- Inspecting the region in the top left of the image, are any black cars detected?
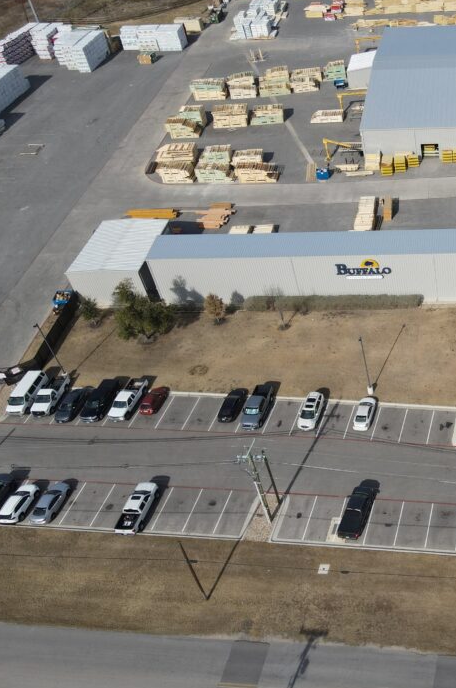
No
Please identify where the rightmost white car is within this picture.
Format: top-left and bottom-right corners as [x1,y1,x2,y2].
[353,394,379,431]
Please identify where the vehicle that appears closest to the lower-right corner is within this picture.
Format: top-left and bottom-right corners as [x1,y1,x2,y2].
[337,484,374,540]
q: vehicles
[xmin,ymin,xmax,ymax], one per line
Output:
[298,393,326,431]
[137,381,173,415]
[337,484,374,540]
[0,480,46,524]
[106,377,149,420]
[218,386,249,422]
[110,480,162,535]
[0,474,27,511]
[5,368,54,415]
[29,479,76,525]
[353,394,379,431]
[30,374,76,417]
[54,386,93,423]
[78,379,123,422]
[241,387,276,431]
